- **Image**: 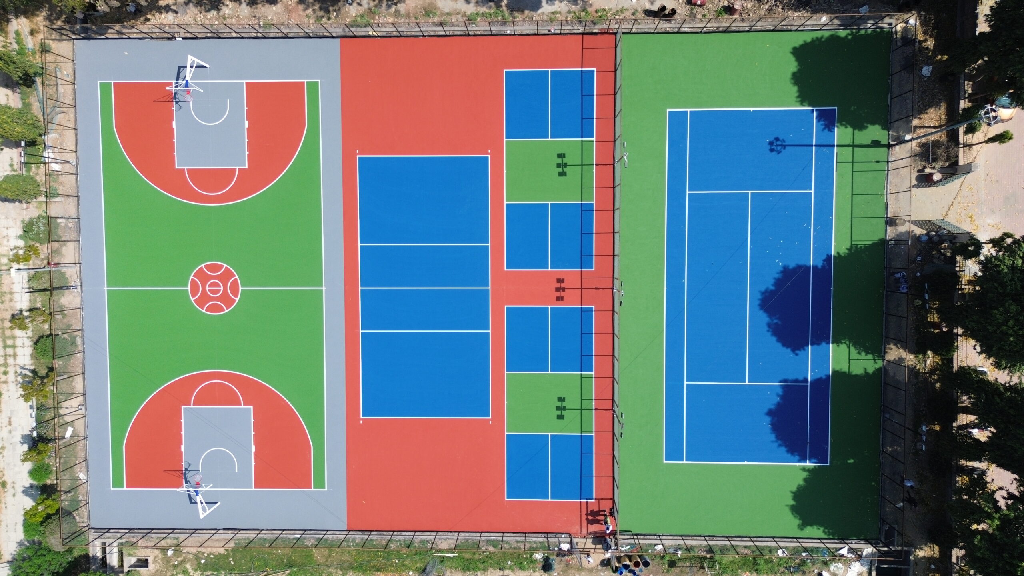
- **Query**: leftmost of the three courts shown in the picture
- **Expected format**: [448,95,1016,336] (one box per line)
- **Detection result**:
[74,38,347,531]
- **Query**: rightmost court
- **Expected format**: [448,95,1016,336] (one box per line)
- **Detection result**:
[612,32,892,536]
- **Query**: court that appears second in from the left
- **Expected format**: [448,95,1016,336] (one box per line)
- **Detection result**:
[340,35,614,533]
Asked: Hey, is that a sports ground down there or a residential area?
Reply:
sports ground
